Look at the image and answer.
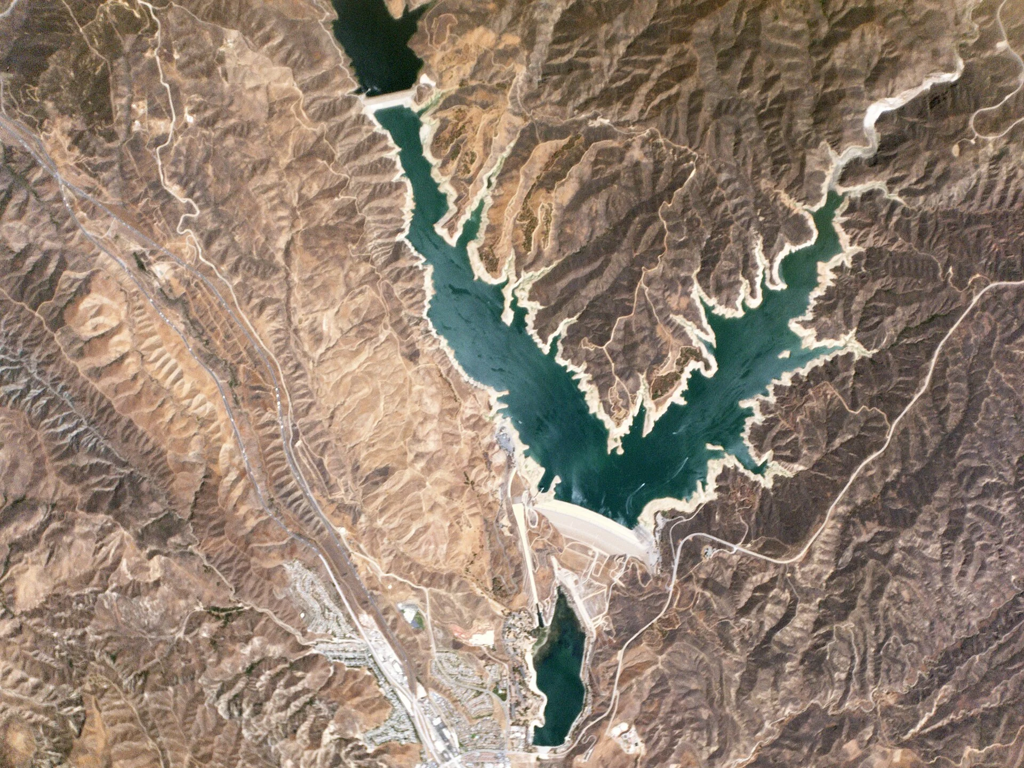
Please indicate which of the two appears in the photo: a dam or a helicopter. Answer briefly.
dam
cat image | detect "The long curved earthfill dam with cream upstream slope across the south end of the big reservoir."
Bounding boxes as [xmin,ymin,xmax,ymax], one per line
[533,500,662,577]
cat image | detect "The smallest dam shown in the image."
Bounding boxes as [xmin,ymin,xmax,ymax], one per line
[364,88,412,113]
